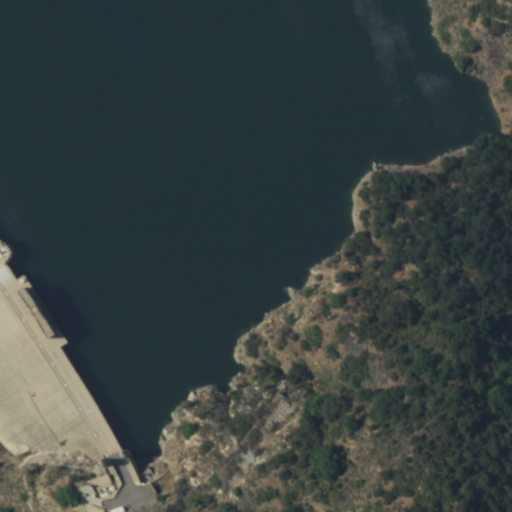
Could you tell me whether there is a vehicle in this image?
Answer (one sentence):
No, there's no vehicle here.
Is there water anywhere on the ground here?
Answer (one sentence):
Yes, some water is visible.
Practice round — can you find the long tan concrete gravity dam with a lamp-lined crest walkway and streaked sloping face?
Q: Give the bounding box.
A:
[0,255,124,466]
